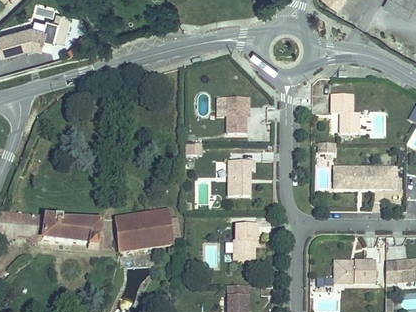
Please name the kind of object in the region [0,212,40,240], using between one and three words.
shed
